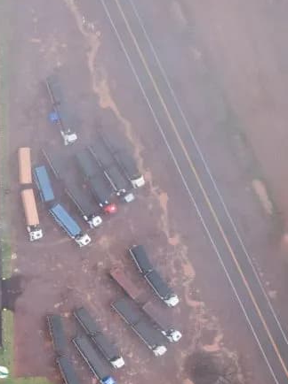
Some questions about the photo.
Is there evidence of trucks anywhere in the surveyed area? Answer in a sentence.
Yes, the picture does show a truck.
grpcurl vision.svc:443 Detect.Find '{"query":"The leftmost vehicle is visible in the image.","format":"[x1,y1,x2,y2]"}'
[16,147,42,241]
